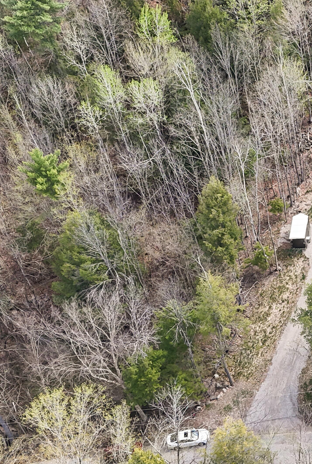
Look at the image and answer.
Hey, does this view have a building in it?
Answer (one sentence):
No, no building is visible in the view.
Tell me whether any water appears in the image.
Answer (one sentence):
No, water can't be seen anywhere here.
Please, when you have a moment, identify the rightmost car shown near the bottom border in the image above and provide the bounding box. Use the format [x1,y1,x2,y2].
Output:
[165,427,210,451]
